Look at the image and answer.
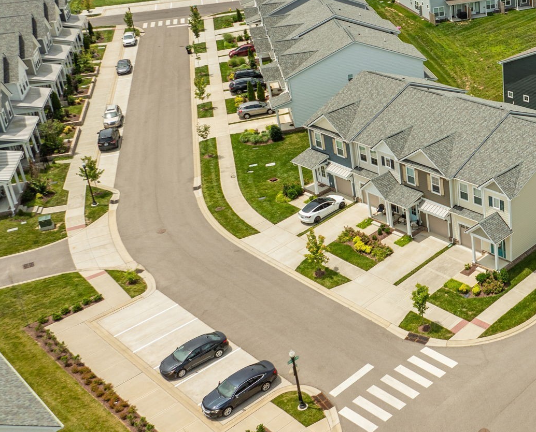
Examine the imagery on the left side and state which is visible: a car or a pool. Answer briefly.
car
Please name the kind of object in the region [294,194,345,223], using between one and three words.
car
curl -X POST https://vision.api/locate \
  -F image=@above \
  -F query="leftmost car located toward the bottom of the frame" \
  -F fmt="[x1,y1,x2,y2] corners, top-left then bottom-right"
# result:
[152,327,230,380]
